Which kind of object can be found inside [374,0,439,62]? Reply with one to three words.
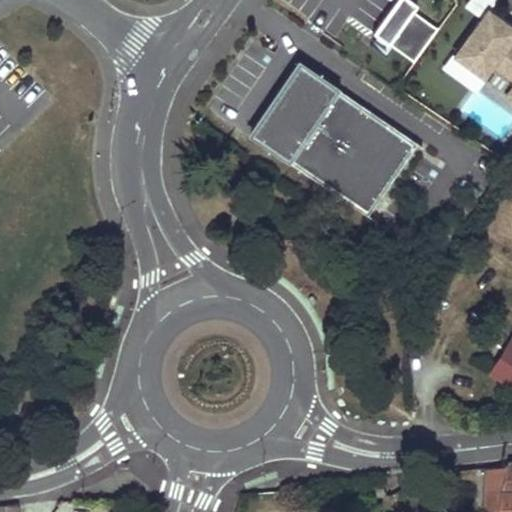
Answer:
house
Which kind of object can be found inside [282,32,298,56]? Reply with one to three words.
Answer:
car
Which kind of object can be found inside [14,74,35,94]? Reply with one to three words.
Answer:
car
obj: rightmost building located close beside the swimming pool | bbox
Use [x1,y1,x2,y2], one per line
[444,10,512,96]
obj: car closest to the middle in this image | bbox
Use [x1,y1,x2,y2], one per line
[220,104,240,121]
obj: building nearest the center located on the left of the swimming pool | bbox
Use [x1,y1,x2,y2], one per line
[250,63,421,216]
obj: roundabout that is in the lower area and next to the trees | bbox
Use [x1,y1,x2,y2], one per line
[117,274,316,473]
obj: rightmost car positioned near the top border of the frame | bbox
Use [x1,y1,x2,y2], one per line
[312,6,328,28]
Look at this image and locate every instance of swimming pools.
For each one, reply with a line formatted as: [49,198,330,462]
[458,90,512,139]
